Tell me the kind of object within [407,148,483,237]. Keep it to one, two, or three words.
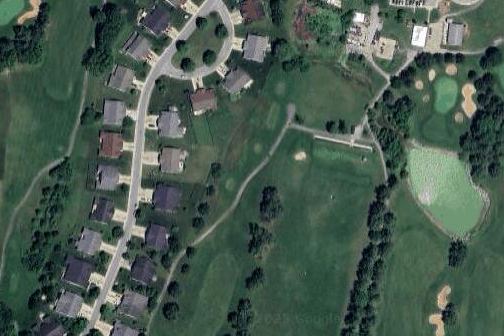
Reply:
pond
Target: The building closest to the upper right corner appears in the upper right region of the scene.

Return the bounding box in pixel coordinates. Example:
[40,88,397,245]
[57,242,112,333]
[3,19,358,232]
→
[442,21,464,46]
